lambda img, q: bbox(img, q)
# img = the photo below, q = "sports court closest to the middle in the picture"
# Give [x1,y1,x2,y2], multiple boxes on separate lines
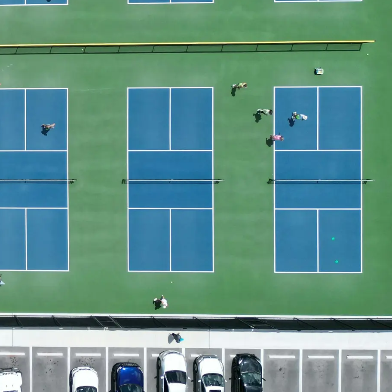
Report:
[128,87,214,272]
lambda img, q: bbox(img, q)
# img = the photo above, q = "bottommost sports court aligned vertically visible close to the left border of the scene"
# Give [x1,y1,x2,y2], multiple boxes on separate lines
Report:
[0,88,69,271]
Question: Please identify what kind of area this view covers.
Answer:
sports ground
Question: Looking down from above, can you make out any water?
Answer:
No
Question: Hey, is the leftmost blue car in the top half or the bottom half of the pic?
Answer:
bottom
